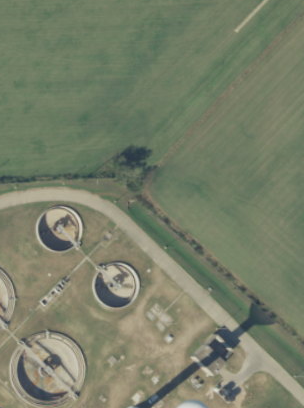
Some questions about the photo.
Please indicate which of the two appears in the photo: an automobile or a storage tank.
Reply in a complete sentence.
The one in the frame is a storage tank.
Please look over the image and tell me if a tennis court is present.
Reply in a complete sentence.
No, I can see no tennis court in this picture.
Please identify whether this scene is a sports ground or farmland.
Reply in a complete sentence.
The picture captures farmland.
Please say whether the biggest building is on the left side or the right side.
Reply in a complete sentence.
The biggest building sits on the right side.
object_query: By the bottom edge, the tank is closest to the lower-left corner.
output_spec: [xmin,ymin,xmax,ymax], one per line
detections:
[10,332,86,408]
